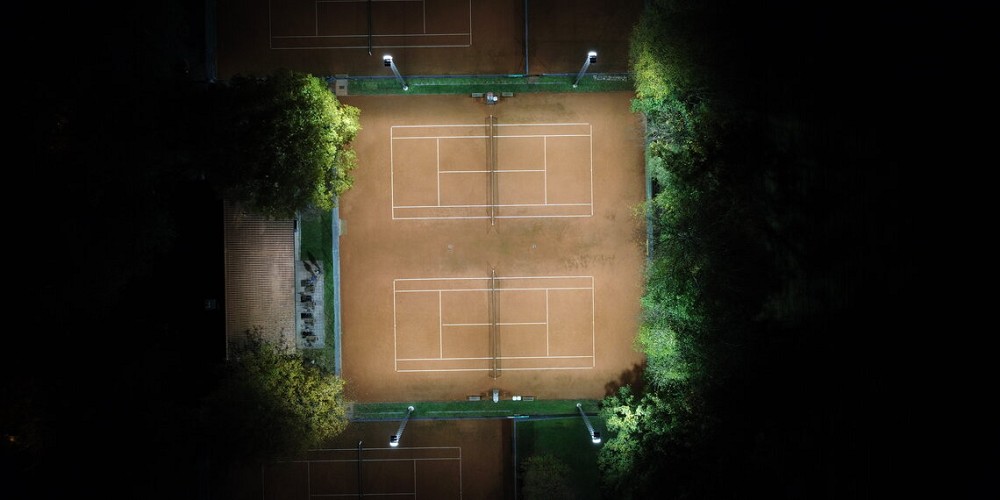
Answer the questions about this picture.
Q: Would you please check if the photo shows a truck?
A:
No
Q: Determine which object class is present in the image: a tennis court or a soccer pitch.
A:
tennis court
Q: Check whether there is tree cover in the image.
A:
Yes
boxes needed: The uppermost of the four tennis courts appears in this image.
[222,0,524,78]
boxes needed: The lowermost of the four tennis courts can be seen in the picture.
[234,420,515,500]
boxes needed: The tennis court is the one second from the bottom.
[342,245,647,404]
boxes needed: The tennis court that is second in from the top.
[339,91,646,249]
